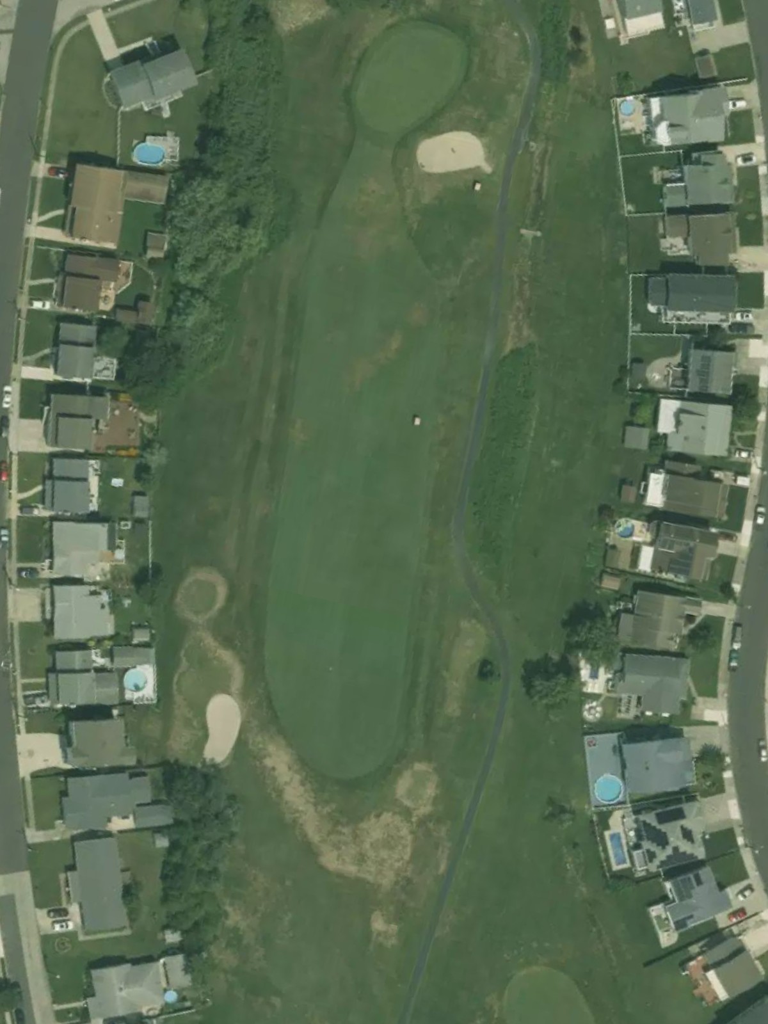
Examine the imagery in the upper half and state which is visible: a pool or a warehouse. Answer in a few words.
pool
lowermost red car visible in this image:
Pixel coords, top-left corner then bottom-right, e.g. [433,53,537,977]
[727,908,748,922]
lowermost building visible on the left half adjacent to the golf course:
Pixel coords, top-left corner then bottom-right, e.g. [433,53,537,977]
[89,954,191,1019]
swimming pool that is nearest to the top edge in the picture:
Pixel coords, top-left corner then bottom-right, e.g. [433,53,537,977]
[619,100,634,116]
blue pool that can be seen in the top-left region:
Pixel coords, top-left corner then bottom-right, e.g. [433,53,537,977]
[134,142,165,165]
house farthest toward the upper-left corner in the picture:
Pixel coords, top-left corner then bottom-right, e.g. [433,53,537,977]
[110,49,198,110]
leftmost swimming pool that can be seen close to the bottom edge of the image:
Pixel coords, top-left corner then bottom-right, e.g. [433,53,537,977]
[164,990,178,1004]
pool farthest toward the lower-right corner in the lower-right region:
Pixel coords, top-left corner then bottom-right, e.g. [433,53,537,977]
[605,829,631,871]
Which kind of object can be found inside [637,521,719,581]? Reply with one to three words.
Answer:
house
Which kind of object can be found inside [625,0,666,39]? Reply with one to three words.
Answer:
house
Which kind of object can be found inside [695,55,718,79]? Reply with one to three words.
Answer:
shed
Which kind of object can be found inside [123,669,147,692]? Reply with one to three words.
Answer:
swimming pool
